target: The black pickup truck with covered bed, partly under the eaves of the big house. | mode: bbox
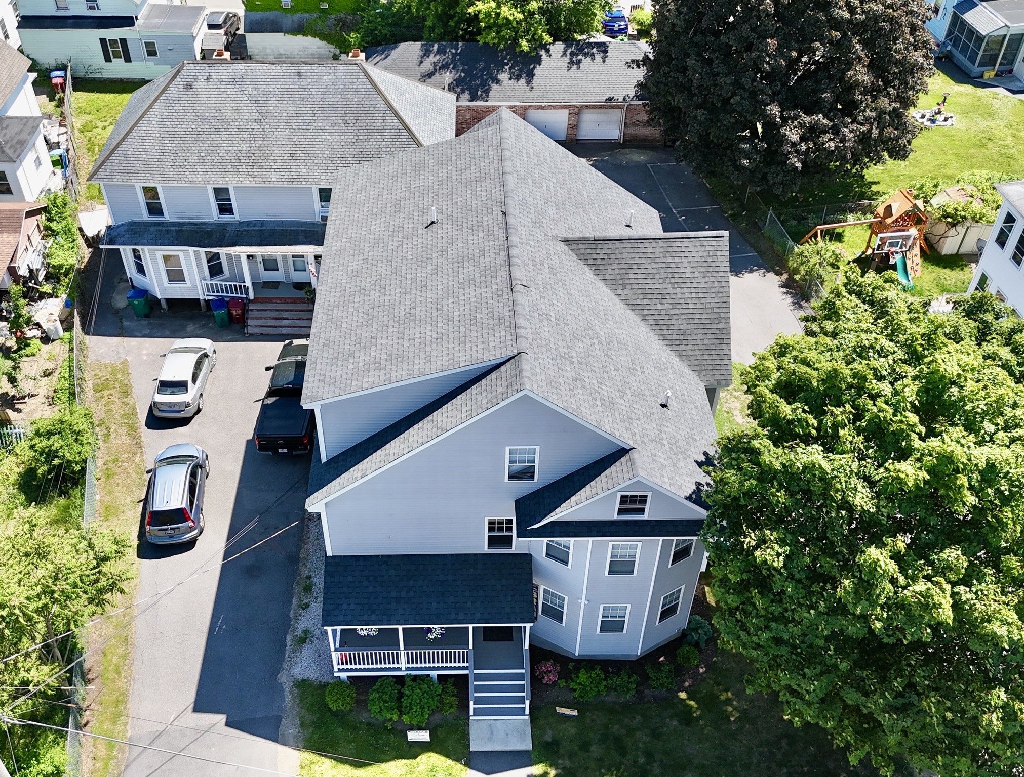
[254,339,315,454]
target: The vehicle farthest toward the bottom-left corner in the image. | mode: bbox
[146,441,212,542]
